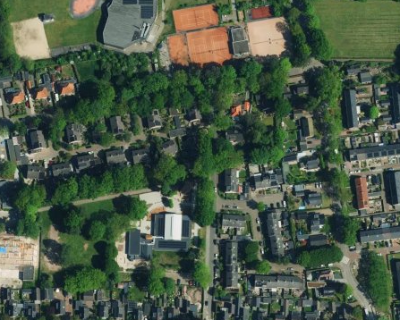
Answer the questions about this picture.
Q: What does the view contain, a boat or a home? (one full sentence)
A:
Visible in the photo is a home.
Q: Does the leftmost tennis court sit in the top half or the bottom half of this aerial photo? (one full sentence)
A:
The leftmost tennis court is in the top half of the image.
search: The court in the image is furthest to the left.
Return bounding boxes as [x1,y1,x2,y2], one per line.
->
[168,32,188,66]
